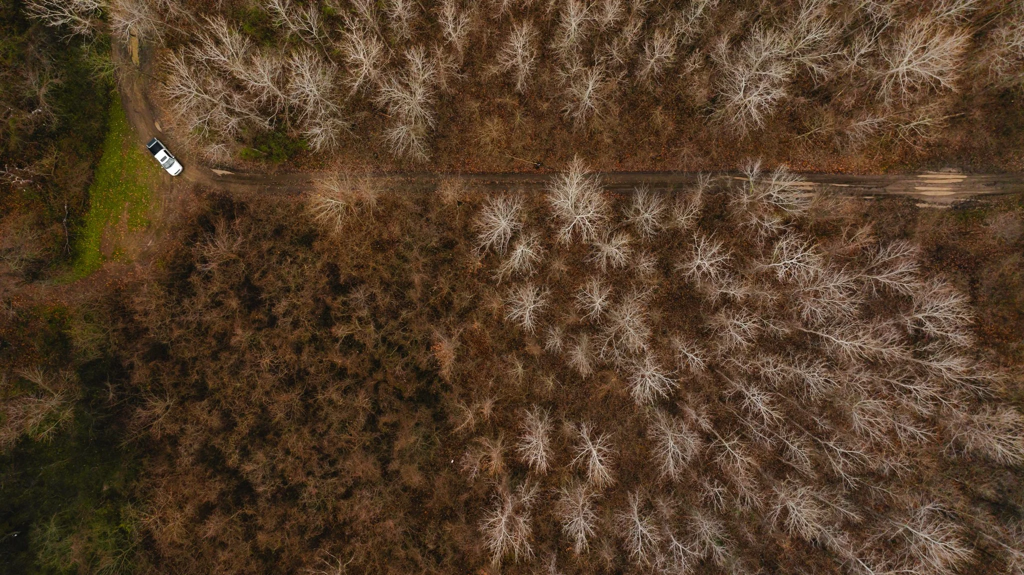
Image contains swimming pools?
No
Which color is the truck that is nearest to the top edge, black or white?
white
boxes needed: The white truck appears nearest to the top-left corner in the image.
[148,138,186,178]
